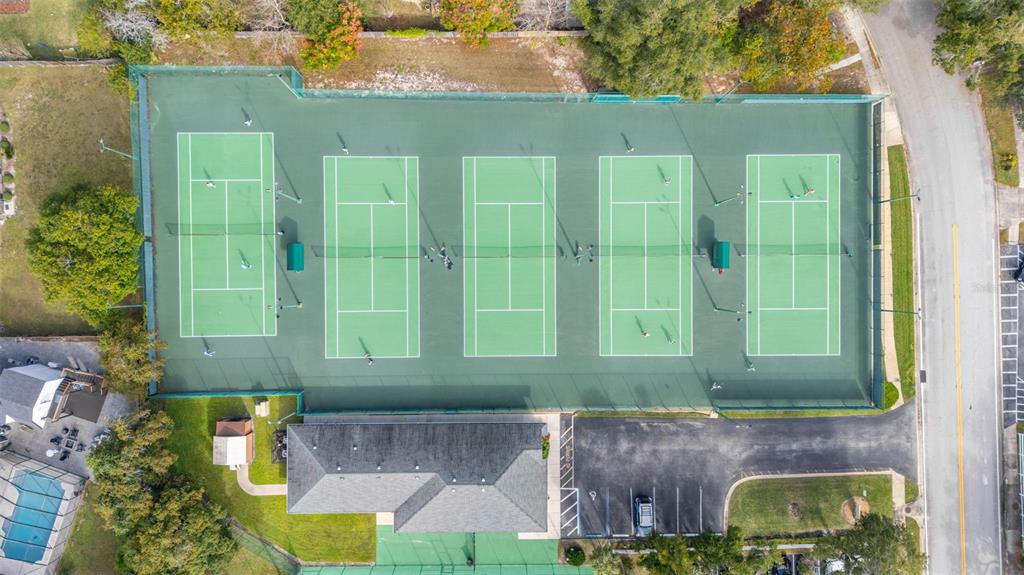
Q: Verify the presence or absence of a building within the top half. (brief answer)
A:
No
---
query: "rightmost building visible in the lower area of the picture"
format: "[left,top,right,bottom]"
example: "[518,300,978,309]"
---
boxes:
[287,410,547,533]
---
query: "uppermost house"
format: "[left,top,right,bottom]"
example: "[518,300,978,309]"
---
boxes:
[0,364,65,428]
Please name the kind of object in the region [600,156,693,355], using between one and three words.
tennis court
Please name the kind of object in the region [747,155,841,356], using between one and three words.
tennis court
